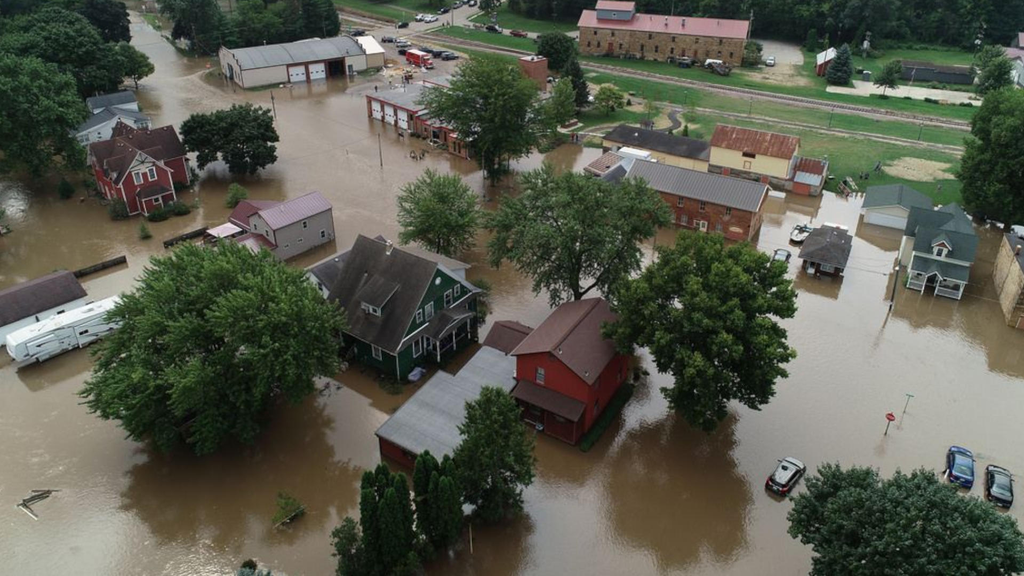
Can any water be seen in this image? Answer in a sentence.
Yes, some water is visible.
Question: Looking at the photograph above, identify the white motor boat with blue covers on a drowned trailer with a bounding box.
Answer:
[791,220,814,246]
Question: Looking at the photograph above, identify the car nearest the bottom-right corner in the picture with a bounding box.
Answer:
[984,470,1012,512]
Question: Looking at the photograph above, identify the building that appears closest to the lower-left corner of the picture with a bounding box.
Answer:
[0,268,88,346]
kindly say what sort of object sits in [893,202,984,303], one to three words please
house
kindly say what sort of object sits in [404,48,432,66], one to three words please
vehicle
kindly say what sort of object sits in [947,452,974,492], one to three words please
car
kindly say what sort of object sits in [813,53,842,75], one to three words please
shed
